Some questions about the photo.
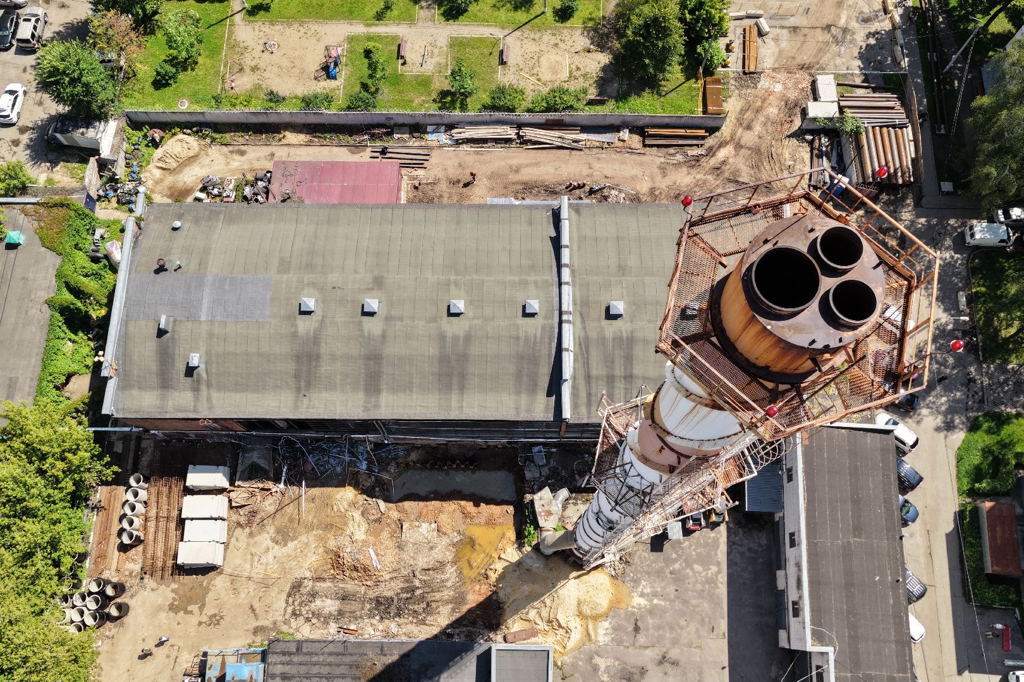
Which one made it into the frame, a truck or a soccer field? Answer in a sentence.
The one in the frame is a truck.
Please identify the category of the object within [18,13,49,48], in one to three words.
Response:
car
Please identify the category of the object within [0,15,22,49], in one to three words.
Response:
car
